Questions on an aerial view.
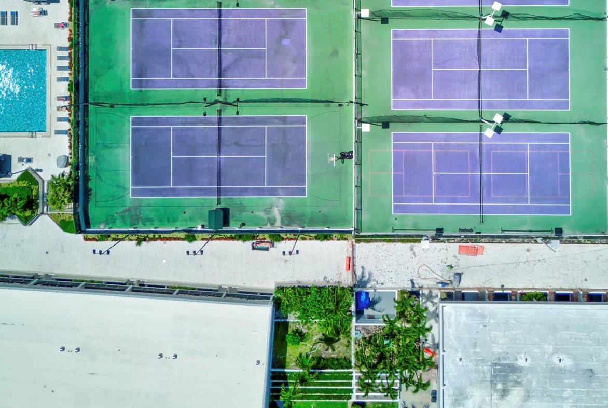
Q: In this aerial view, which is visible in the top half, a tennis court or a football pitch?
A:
tennis court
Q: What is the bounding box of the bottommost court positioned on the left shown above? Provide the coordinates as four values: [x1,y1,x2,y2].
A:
[95,107,340,207]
